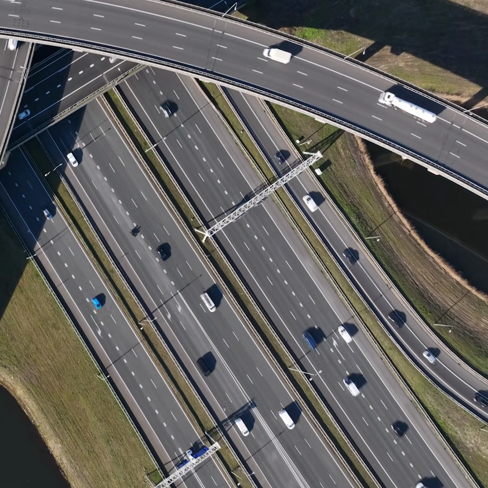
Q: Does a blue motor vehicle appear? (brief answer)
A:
Yes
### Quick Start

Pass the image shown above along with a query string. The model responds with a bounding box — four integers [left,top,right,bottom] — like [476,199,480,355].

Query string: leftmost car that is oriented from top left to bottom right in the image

[40,207,53,222]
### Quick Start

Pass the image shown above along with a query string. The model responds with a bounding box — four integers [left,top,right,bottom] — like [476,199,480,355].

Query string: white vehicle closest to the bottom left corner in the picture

[234,416,249,436]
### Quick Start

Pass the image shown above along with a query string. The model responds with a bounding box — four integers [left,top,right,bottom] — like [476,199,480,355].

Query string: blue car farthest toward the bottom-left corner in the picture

[90,293,103,310]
